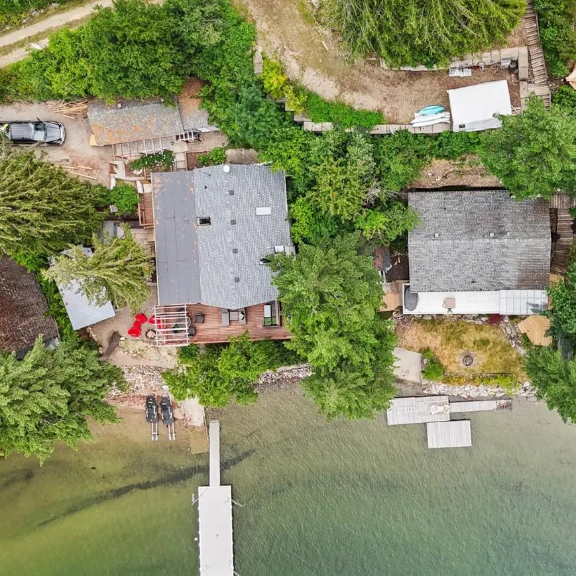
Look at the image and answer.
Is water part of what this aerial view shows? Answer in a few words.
Yes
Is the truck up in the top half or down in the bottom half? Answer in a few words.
top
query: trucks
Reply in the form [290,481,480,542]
[0,114,63,146]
